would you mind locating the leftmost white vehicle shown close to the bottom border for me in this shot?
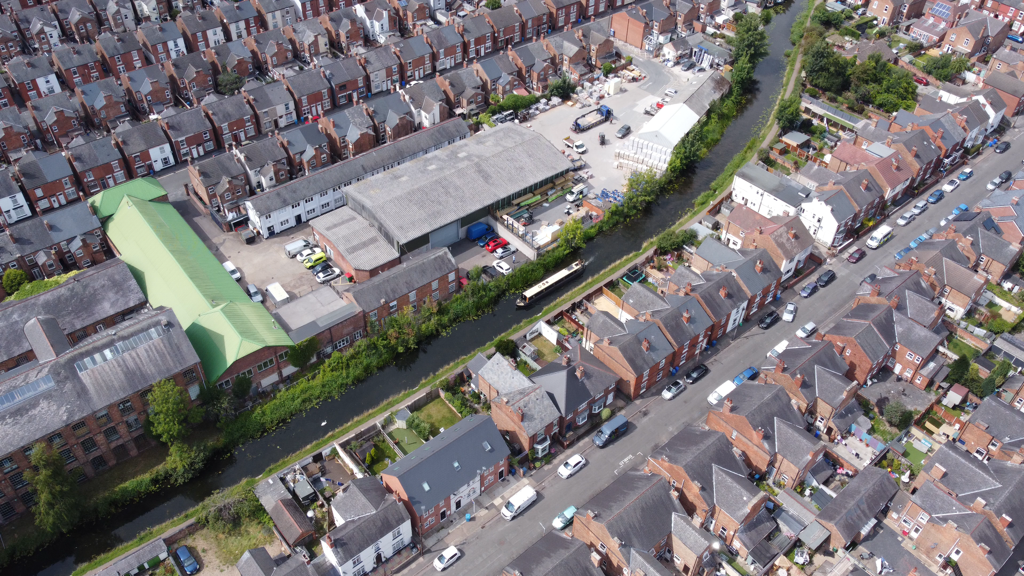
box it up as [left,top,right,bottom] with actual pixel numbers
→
[431,545,464,571]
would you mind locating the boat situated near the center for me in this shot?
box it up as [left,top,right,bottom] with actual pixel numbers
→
[519,259,586,309]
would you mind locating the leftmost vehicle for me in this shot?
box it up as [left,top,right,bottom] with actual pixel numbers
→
[174,545,199,576]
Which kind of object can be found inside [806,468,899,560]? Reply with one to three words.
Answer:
barn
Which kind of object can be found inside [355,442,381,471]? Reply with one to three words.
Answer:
shed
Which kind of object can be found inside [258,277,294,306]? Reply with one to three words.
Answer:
truck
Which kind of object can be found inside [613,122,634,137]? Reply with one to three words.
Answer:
car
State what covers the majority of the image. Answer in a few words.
buildings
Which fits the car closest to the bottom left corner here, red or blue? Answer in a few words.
blue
